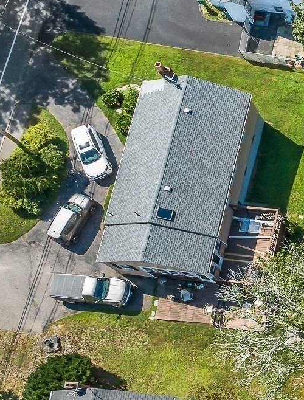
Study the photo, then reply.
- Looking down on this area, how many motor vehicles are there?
three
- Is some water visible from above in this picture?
No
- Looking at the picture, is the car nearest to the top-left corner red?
No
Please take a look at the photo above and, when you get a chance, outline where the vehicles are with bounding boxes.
[45,192,102,247]
[52,274,131,305]
[72,126,115,182]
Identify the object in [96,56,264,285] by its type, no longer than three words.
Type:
house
